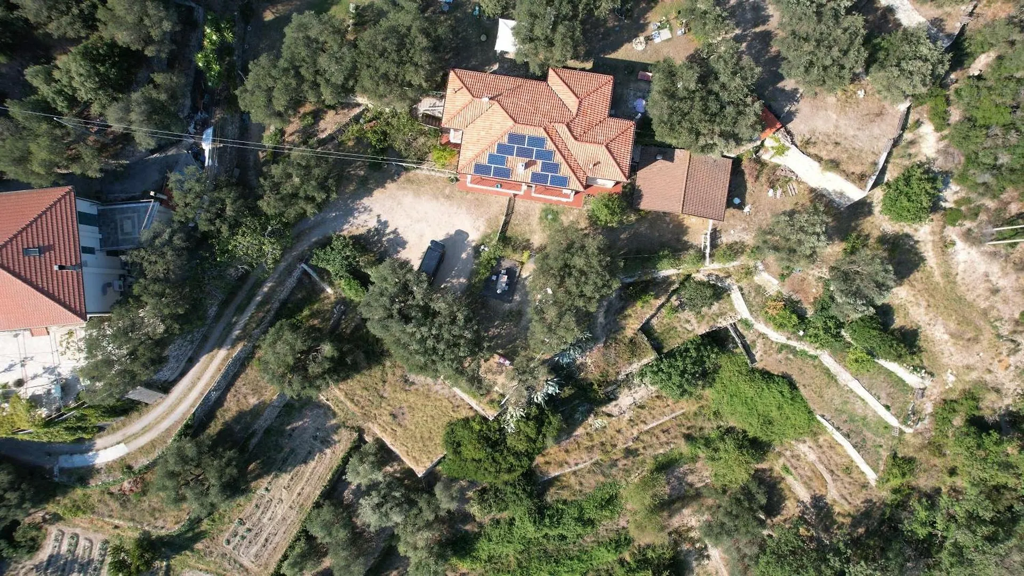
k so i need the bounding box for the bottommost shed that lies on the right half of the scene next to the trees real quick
[633,145,733,221]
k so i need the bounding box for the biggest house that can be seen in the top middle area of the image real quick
[441,67,636,208]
